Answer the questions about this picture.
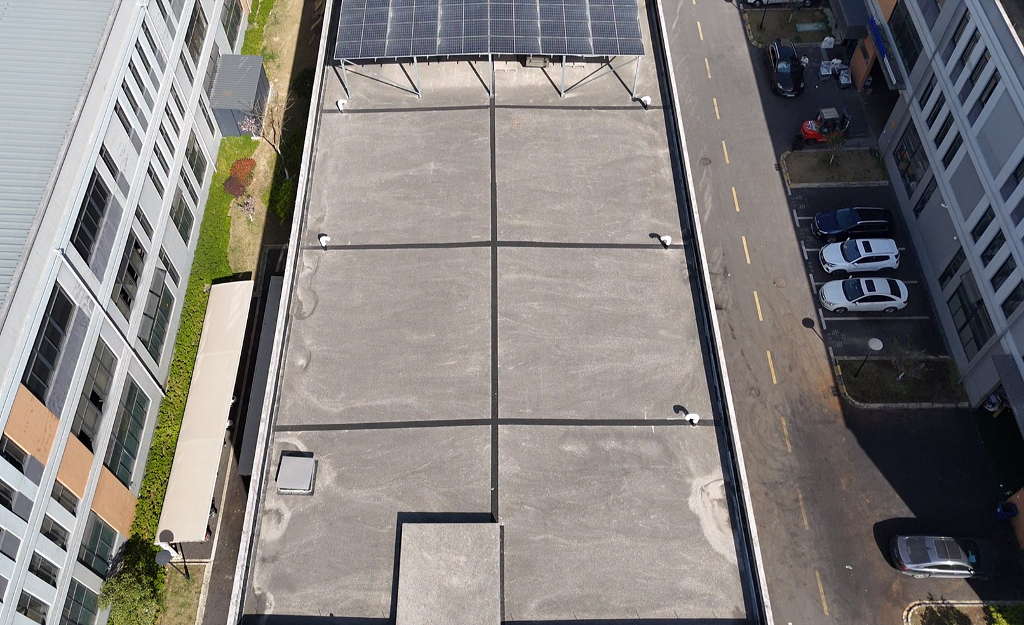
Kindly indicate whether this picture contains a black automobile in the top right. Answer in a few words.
Yes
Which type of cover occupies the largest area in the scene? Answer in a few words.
buildings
